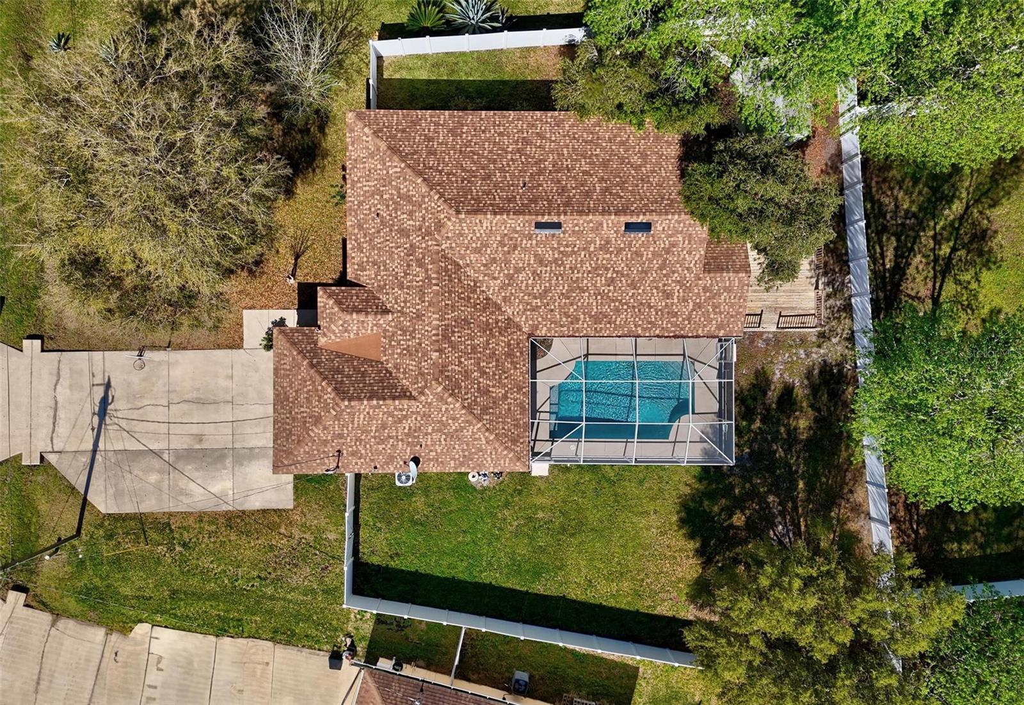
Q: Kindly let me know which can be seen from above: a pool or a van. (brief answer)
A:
pool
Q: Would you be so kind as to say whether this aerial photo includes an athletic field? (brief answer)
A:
No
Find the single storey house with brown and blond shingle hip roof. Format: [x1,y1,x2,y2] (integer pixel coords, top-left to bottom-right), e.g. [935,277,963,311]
[271,107,752,475]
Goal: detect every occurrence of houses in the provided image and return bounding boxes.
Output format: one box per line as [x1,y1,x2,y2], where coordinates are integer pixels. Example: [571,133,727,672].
[271,107,752,475]
[345,654,558,705]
